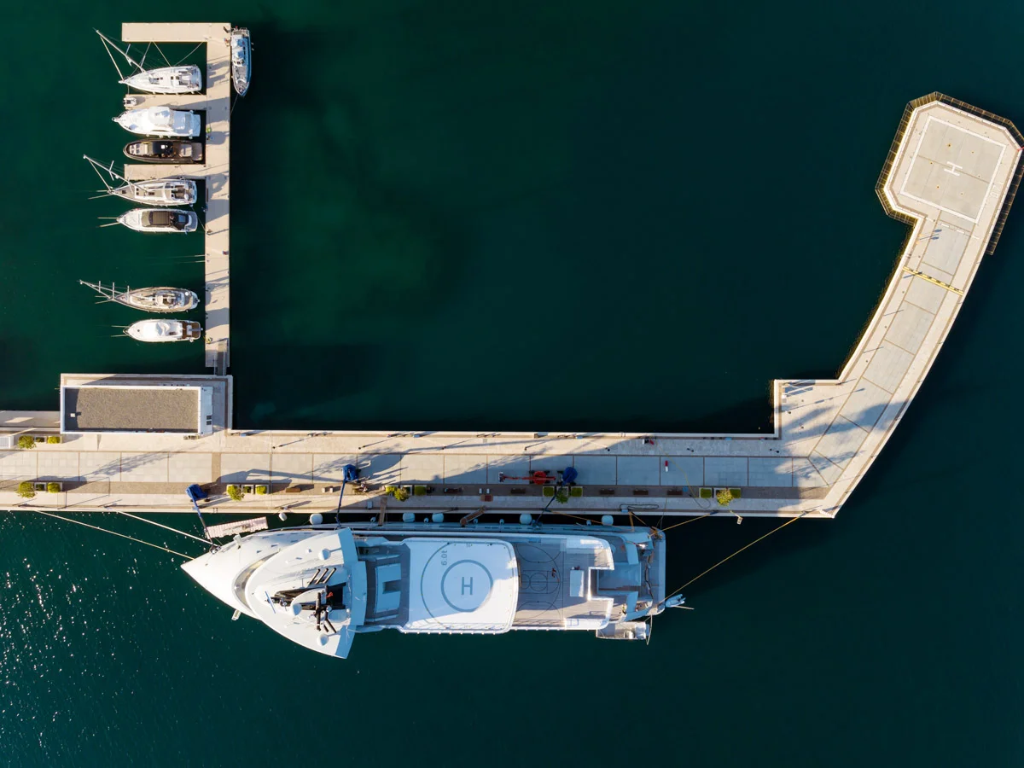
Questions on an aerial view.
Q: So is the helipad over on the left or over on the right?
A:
right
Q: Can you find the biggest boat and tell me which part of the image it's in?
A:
bottom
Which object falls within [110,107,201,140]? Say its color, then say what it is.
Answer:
white boat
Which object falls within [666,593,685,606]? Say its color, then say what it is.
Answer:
blue boat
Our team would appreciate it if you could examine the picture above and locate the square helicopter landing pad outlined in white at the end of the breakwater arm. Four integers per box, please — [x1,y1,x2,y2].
[875,91,1024,255]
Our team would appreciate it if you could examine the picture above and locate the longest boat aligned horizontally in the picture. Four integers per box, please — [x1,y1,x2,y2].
[181,521,665,658]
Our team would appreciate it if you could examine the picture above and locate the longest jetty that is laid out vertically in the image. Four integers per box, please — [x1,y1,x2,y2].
[122,23,232,367]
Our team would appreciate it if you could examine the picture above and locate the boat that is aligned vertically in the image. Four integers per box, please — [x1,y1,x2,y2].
[231,26,256,97]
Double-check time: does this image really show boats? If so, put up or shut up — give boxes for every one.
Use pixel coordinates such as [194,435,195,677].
[666,593,685,606]
[595,615,652,644]
[104,208,201,235]
[110,107,201,140]
[122,139,205,163]
[181,521,665,658]
[114,318,204,344]
[81,155,199,208]
[76,280,201,315]
[231,26,256,97]
[93,29,205,95]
